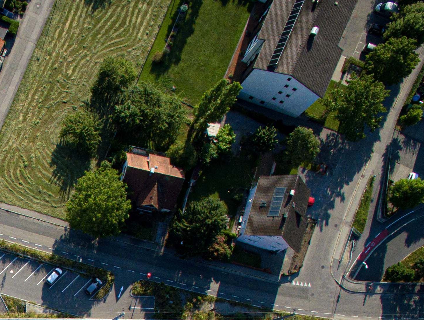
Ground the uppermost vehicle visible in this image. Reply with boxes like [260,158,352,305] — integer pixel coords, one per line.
[374,2,398,15]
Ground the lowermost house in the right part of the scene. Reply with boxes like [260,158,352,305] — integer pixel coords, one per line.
[239,178,315,253]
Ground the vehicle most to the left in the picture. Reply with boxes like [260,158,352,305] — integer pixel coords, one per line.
[46,267,63,286]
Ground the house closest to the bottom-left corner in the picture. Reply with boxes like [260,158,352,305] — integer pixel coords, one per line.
[117,146,185,215]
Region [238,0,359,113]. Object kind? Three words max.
building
